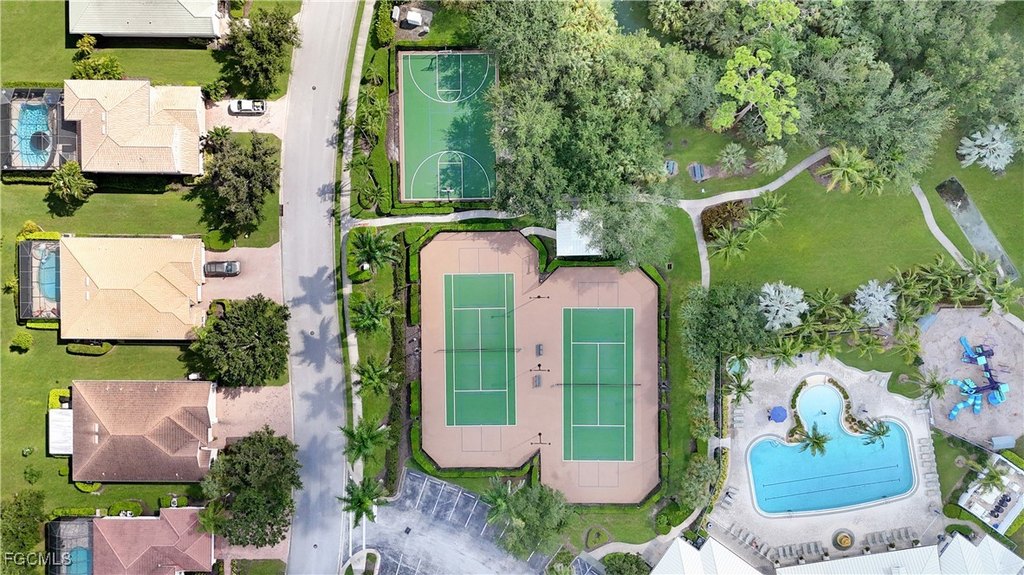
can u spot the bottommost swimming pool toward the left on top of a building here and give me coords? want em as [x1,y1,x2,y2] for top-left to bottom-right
[66,545,93,575]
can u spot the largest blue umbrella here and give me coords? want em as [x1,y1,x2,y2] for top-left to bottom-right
[769,405,787,423]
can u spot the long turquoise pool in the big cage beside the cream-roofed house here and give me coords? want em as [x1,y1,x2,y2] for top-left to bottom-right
[17,102,53,169]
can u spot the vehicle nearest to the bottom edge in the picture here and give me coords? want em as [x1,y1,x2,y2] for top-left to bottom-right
[205,261,238,276]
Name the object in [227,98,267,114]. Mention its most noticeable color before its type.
white vehicle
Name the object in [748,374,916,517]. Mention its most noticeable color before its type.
blue swimming pool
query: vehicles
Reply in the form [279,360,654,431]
[205,261,238,276]
[227,98,267,114]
